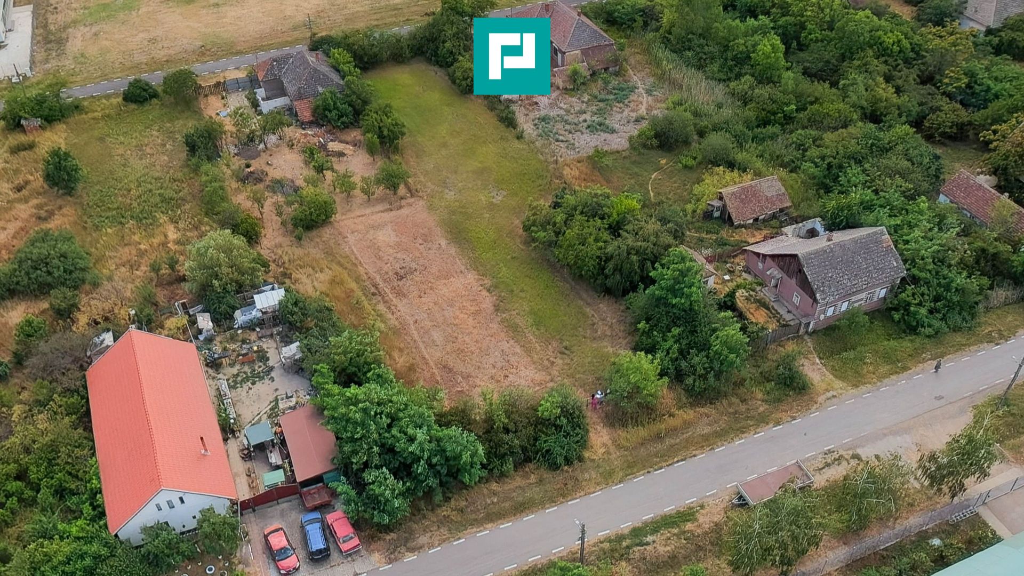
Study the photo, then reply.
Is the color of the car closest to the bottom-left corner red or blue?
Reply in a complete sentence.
From above, the car closest to the bottom-left corner appears red.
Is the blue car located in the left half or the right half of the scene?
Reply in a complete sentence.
It is on the left.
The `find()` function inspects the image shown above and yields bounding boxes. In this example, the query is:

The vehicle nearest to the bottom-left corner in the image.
[262,523,302,576]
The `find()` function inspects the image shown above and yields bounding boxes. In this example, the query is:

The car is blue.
[298,509,329,563]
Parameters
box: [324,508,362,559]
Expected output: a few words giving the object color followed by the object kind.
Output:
red car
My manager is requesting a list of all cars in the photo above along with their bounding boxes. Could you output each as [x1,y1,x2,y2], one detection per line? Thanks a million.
[262,523,302,576]
[324,508,362,559]
[298,509,329,563]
